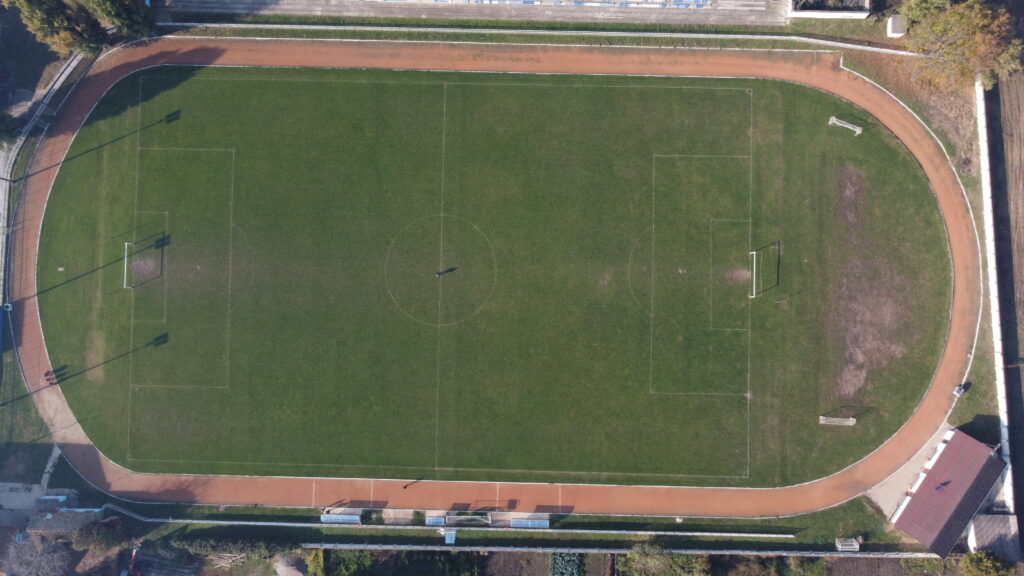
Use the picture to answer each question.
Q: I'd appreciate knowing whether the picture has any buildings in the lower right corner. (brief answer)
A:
Yes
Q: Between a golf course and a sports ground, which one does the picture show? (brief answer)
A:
sports ground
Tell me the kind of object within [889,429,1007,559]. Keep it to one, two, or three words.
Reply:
house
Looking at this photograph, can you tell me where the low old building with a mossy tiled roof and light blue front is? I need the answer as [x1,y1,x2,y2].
[23,508,108,534]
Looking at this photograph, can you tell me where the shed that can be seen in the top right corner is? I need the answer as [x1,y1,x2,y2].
[886,15,906,38]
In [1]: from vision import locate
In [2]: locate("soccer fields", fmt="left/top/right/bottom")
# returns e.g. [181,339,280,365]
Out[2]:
[36,65,953,488]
